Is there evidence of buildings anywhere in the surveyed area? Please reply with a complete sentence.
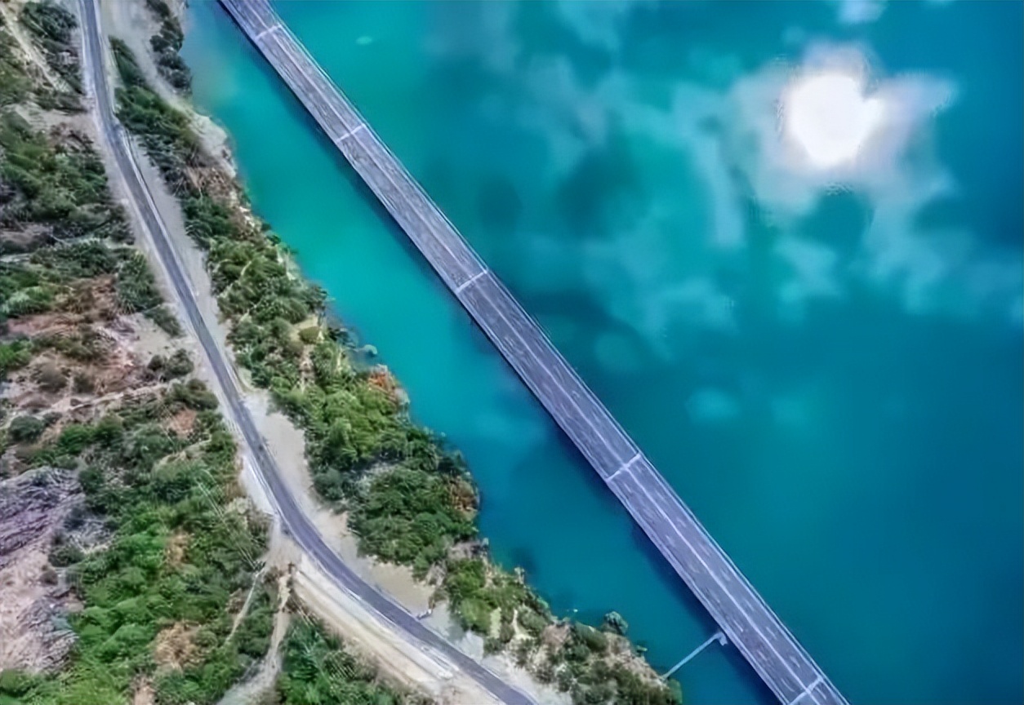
No, this view has no building in it.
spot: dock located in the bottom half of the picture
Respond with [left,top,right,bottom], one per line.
[663,630,731,679]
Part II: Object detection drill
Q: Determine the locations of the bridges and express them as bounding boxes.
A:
[223,0,851,705]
